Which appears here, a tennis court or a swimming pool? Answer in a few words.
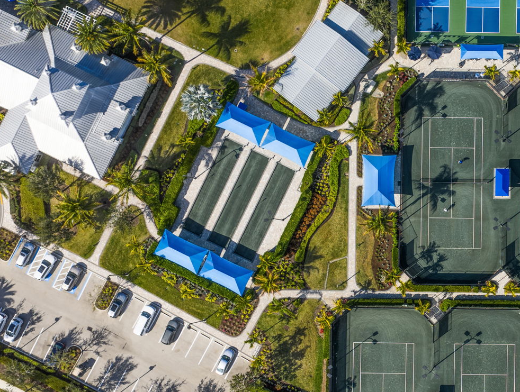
tennis court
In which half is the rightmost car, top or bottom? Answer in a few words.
bottom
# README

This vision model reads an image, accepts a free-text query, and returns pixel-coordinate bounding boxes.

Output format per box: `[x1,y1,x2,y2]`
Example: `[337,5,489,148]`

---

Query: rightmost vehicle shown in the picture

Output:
[217,348,237,374]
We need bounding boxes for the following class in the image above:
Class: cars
[15,242,37,268]
[108,291,130,318]
[162,317,183,345]
[135,306,158,335]
[5,316,25,342]
[0,310,11,336]
[35,254,57,281]
[217,348,237,374]
[62,264,86,290]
